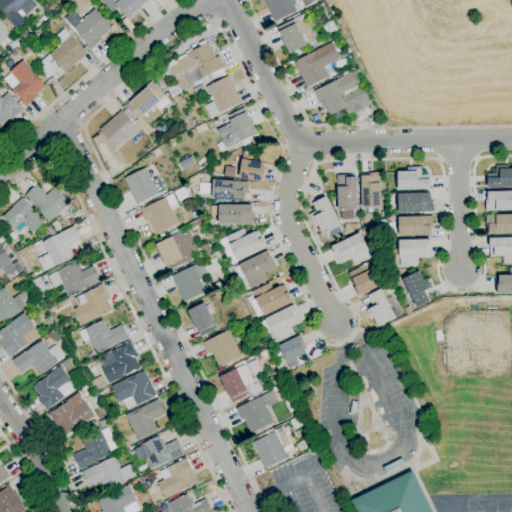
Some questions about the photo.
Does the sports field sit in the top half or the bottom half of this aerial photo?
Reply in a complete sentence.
Seen from above, the sports field lies in the bottom half of the view.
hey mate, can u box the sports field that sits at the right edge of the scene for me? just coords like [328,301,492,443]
[392,298,512,496]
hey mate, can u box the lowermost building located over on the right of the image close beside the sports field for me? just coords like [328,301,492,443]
[352,472,430,512]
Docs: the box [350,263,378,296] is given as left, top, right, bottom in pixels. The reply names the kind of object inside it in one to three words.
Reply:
house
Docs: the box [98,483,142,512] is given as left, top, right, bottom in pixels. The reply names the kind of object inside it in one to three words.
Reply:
house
